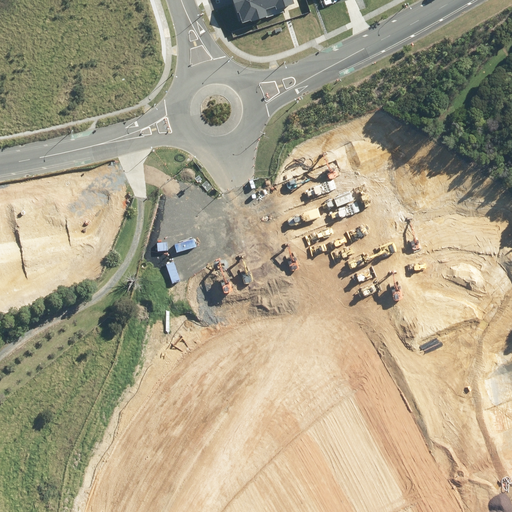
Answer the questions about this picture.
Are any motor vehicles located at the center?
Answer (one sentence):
Yes, a motor vehicle can be seen at the center.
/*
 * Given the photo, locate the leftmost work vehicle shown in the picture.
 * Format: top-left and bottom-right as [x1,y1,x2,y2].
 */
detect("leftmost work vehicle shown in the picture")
[216,260,234,296]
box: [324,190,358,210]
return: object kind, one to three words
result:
vehicle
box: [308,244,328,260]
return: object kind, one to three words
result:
work vehicle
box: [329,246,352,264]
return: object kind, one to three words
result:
work vehicle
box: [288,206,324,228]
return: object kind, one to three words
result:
truck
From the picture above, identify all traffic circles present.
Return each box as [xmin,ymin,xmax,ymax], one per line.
[190,84,243,137]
